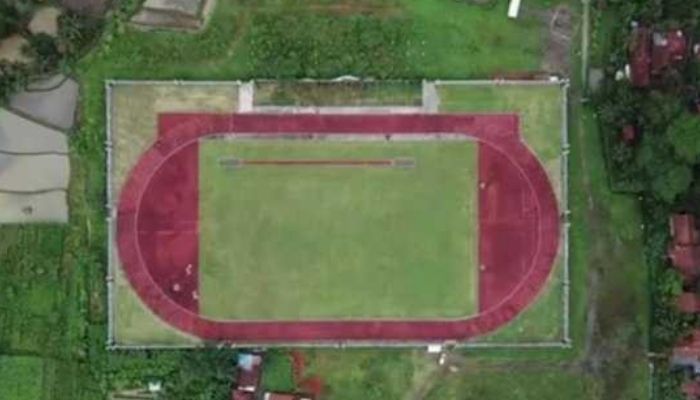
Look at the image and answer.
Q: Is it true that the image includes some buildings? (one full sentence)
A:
Yes, the frame does contain a building.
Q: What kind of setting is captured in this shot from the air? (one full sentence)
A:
The picture captures a sports ground.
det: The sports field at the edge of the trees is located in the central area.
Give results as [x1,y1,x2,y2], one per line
[200,138,479,317]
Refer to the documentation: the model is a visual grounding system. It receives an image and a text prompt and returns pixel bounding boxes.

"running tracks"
[116,114,560,341]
